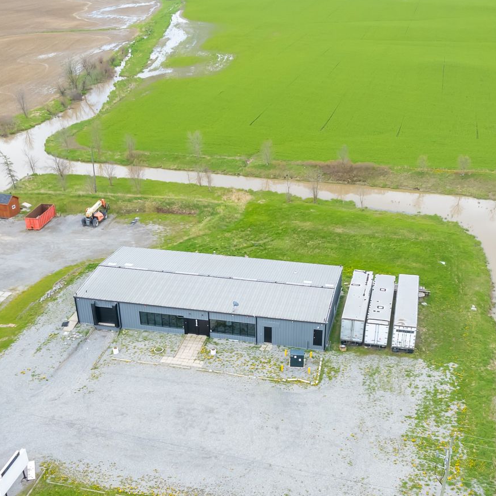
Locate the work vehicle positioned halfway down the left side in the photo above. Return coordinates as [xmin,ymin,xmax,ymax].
[84,195,109,225]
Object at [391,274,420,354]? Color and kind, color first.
white trailer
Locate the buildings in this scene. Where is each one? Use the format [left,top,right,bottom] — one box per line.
[0,194,21,218]
[71,246,344,352]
